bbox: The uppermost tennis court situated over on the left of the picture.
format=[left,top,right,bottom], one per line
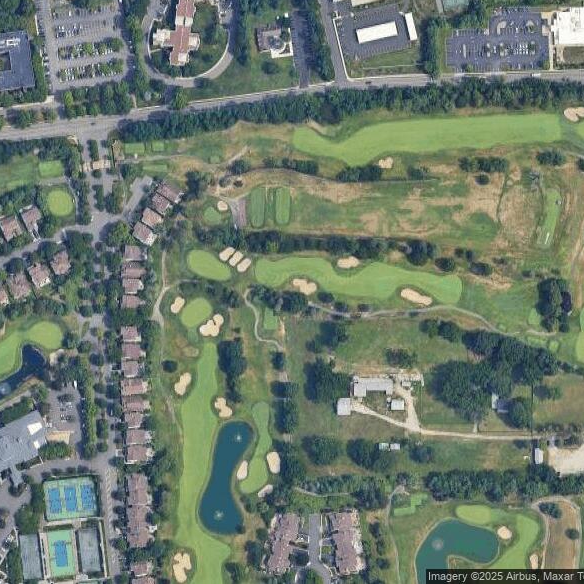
[44,478,98,521]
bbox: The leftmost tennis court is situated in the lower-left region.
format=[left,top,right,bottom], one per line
[20,534,42,580]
